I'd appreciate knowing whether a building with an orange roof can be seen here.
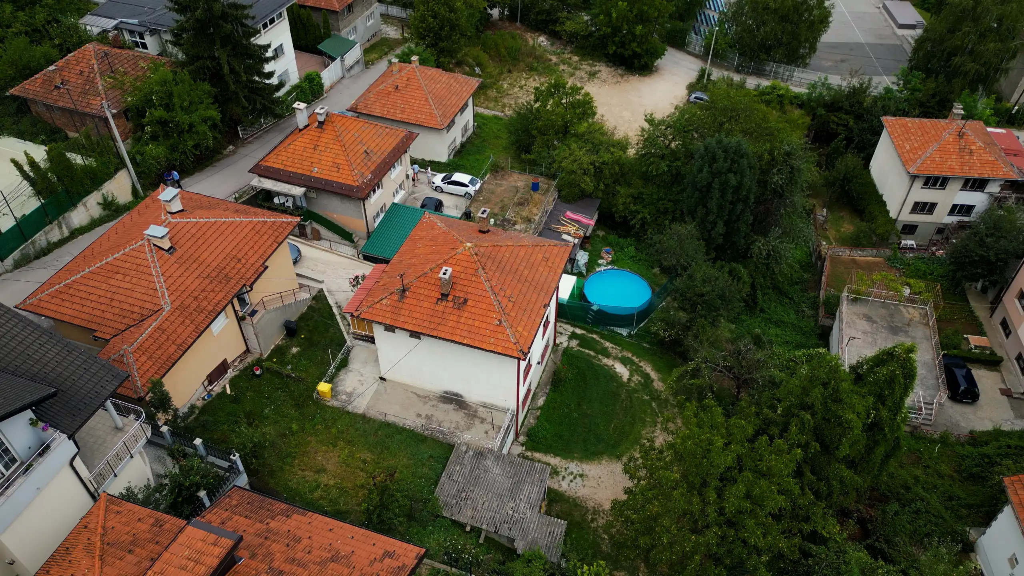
Yes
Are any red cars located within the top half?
No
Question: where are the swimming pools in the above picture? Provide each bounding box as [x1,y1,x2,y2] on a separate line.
[581,270,653,321]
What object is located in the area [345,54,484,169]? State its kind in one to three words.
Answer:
house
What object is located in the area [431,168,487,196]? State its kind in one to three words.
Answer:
car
